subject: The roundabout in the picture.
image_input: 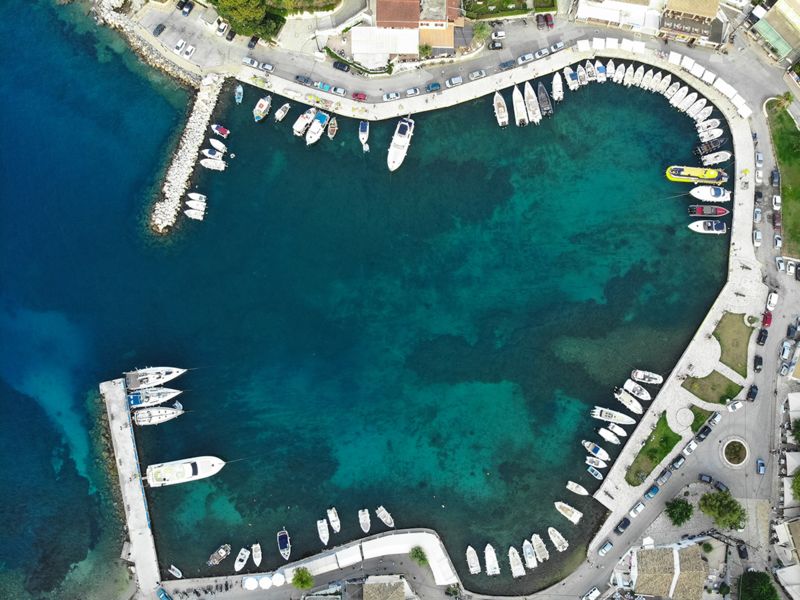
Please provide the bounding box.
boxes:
[719,437,751,469]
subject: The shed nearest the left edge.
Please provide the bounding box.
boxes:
[199,6,220,33]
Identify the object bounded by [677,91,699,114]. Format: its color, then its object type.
white boat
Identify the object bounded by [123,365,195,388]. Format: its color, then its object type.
white boat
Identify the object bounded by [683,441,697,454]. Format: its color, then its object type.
white vehicle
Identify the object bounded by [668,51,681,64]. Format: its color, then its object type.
white umbrella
